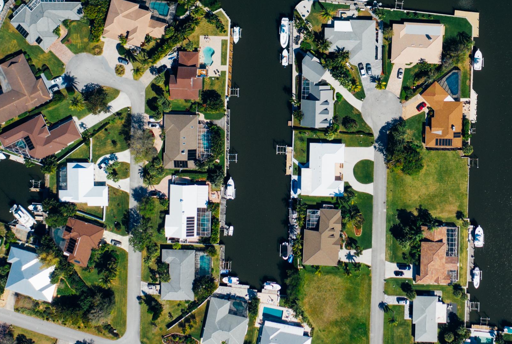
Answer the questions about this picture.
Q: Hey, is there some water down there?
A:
Yes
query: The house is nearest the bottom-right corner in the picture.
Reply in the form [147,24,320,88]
[413,295,446,344]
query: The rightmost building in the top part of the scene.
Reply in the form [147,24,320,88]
[420,82,463,148]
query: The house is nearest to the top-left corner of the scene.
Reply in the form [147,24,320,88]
[10,2,85,51]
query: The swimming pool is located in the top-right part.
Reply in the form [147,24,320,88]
[446,72,459,96]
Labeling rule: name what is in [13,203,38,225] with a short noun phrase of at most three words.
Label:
boat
